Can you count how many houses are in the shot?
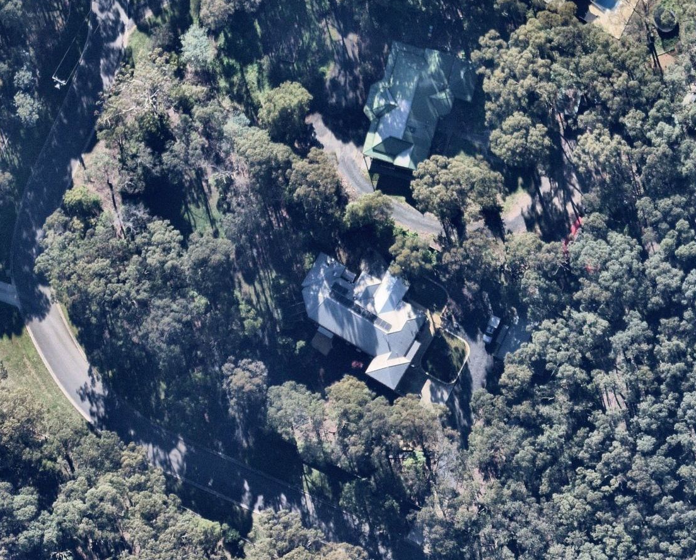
2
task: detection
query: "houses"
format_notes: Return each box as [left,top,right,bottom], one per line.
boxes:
[301,252,427,392]
[363,40,476,175]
